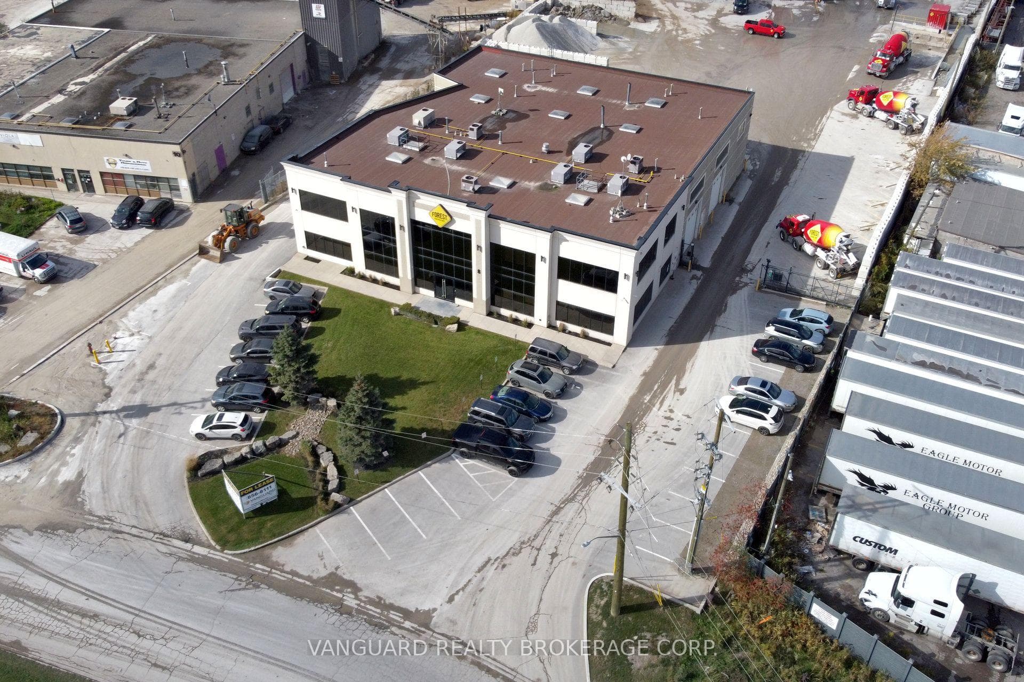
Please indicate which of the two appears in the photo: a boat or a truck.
truck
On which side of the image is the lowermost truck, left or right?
right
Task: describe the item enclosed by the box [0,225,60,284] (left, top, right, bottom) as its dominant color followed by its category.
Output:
white truck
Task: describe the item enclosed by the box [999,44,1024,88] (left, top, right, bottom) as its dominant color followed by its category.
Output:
white truck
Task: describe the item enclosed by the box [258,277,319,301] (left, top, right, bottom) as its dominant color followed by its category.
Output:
gray car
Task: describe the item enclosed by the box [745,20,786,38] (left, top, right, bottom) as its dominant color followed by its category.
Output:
red vehicle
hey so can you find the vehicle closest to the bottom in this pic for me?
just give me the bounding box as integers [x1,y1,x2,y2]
[861,570,1024,676]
